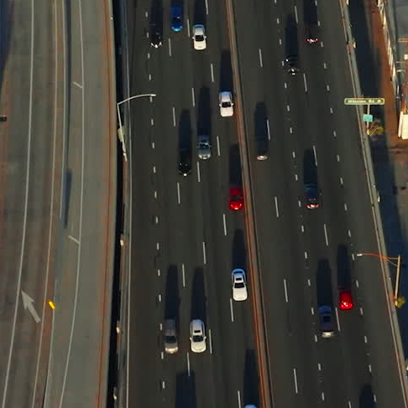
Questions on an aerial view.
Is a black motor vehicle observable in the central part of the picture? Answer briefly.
Yes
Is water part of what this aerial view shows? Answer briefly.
No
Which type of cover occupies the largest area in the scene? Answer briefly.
paved ground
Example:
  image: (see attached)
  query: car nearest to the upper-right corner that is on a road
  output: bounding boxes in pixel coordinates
[304,21,320,43]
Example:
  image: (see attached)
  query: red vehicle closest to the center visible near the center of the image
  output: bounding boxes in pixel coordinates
[229,185,244,214]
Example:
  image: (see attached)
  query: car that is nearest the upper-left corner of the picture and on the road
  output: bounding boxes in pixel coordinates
[149,23,164,47]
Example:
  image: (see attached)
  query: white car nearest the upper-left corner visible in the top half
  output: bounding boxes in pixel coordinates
[192,25,207,49]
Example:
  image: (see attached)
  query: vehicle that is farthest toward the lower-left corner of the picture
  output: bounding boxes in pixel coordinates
[162,320,180,352]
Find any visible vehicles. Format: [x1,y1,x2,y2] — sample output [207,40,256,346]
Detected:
[176,149,193,174]
[196,134,212,162]
[162,320,180,352]
[218,90,234,119]
[283,52,300,78]
[317,307,335,339]
[189,321,207,352]
[149,23,164,47]
[229,185,244,214]
[170,7,185,29]
[303,184,320,211]
[231,271,249,301]
[304,21,320,43]
[192,25,207,49]
[254,135,270,162]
